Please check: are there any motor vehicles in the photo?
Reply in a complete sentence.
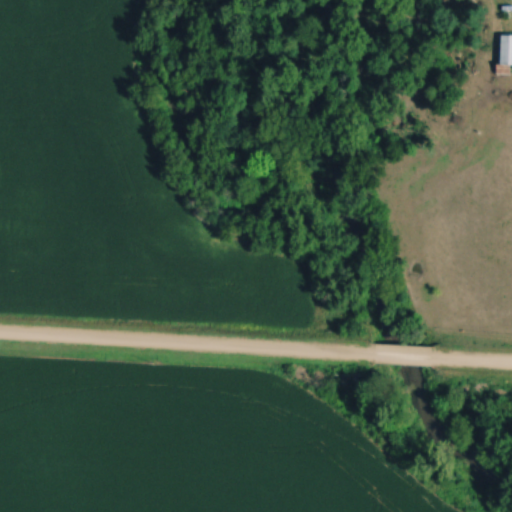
No, I can see no motor vehicle in this picture.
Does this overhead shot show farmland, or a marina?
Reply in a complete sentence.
The picture captures farmland.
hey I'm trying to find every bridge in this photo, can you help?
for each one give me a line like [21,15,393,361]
[372,344,437,367]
